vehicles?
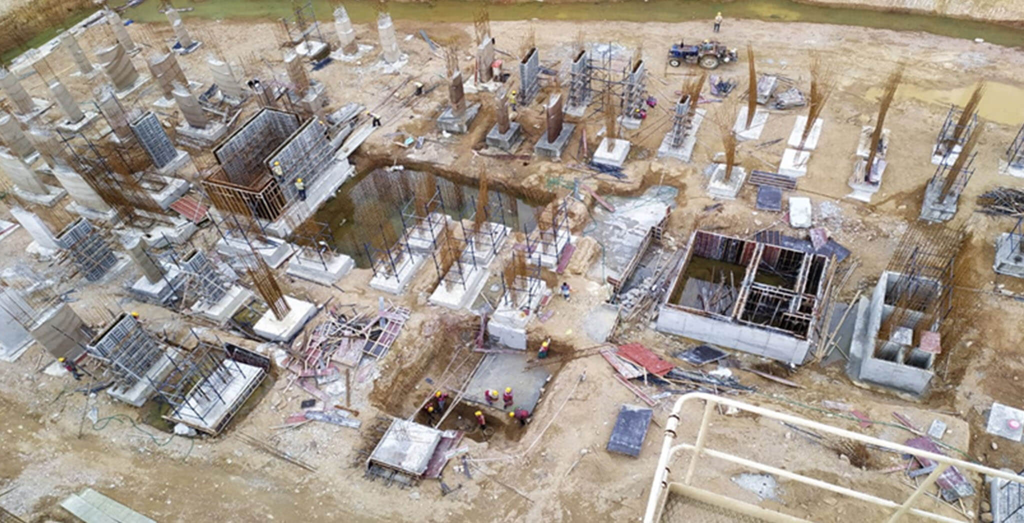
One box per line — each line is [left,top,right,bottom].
[666,37,737,77]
